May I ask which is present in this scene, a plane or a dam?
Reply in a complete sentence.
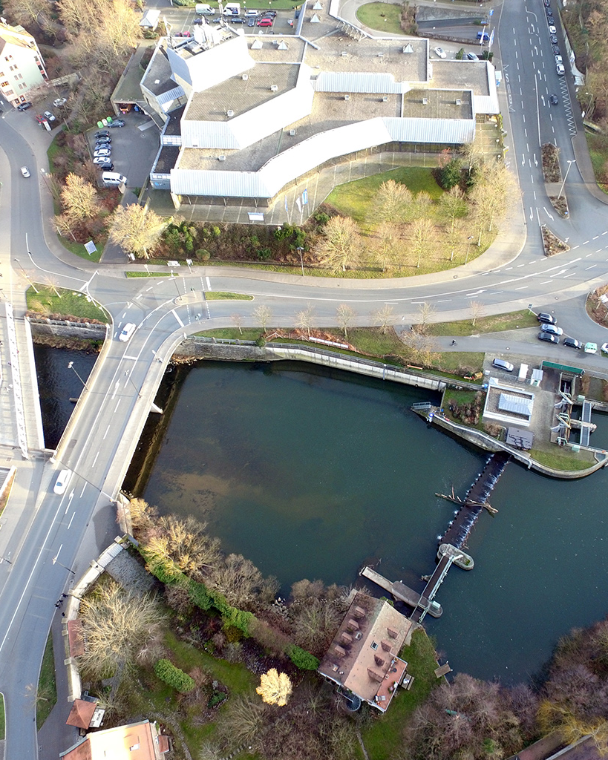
Of the two, only a dam appears.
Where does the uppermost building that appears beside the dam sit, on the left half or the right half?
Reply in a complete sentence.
The uppermost building that appears beside the dam appears in the right half of the scene.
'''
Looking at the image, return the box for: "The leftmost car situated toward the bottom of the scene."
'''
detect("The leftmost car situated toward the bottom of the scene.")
[55,470,72,493]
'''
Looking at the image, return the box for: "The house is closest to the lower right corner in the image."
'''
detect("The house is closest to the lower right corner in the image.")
[317,590,414,714]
